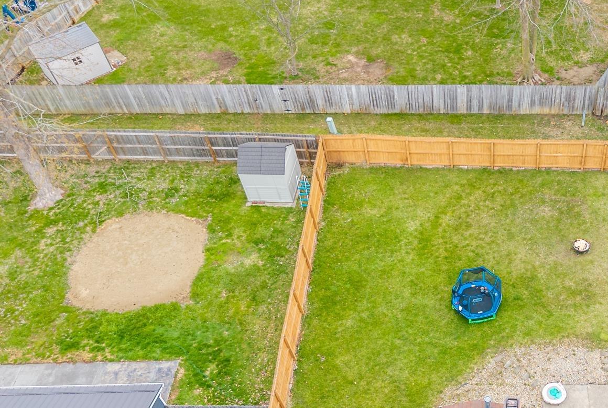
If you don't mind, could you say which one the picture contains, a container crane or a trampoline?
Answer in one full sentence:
Of the two, only a trampoline appears.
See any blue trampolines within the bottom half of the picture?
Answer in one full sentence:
Yes, you'll find a blue trampoline within the bottom half of the picture.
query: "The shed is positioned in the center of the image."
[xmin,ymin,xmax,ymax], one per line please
[233,146,304,207]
